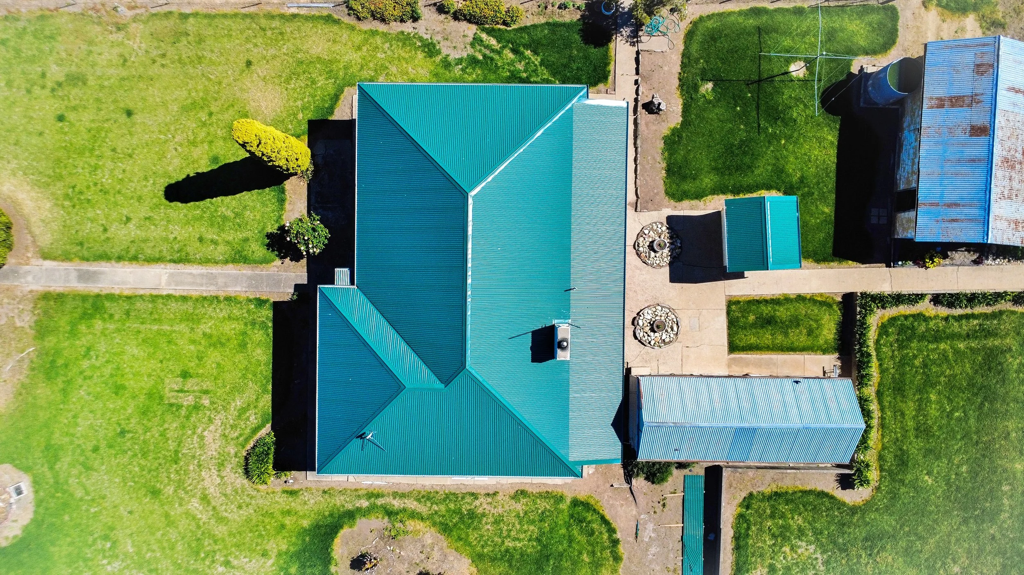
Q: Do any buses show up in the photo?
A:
No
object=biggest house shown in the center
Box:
[314,81,631,479]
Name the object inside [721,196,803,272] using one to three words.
shed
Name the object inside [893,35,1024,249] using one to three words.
shed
